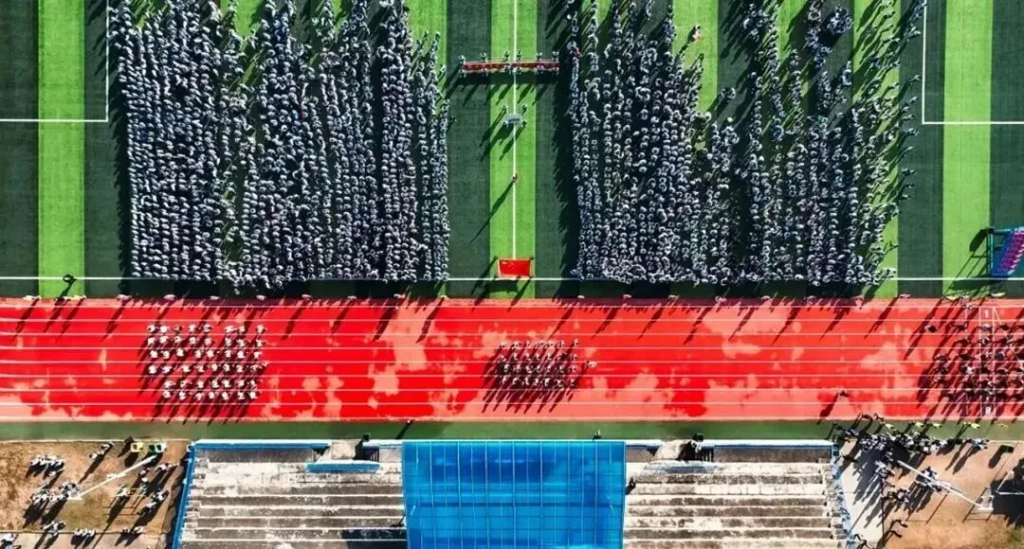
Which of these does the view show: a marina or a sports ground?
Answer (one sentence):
The area seen from above is a sports ground.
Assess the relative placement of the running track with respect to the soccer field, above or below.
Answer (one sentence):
From this view, the running track can be seen below the soccer field.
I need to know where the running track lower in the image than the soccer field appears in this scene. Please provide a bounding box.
[0,299,1024,422]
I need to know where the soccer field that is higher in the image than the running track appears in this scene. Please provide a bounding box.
[0,0,1024,299]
